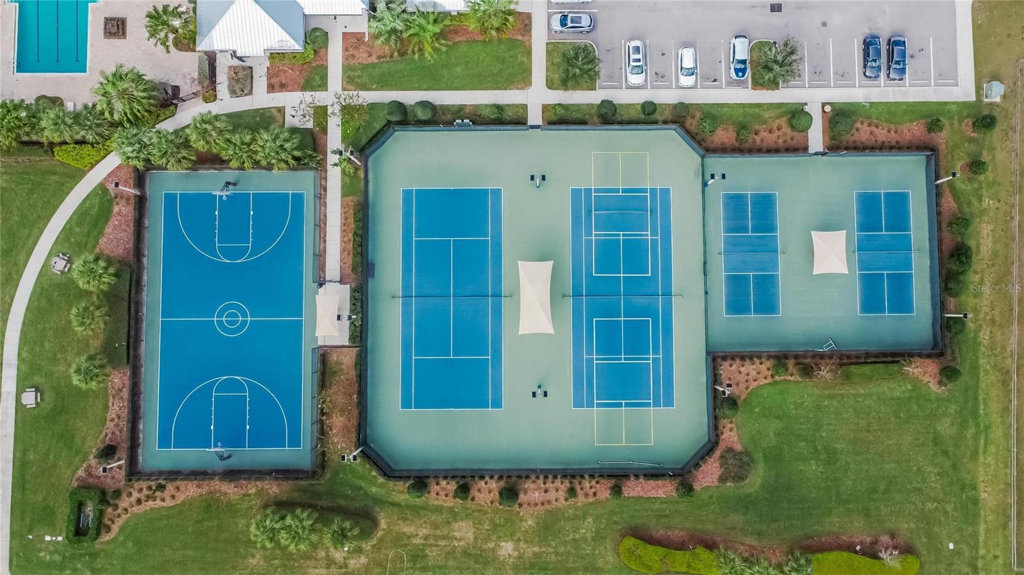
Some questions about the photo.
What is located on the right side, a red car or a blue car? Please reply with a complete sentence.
There is a blue car on the right side.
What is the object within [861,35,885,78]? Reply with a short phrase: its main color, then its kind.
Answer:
blue car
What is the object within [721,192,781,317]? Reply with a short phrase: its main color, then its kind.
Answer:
blue sports court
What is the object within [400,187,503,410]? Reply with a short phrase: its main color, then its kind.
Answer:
blue tennis court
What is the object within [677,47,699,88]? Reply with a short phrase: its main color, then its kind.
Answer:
white car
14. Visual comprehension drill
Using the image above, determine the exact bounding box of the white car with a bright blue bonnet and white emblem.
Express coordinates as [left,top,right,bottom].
[729,35,751,80]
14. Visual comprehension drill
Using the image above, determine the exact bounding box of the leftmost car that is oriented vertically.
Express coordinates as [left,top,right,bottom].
[625,40,647,86]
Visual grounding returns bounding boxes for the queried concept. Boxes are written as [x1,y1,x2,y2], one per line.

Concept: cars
[729,35,751,80]
[625,40,647,86]
[861,35,885,78]
[885,36,910,81]
[677,47,699,88]
[550,11,593,34]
